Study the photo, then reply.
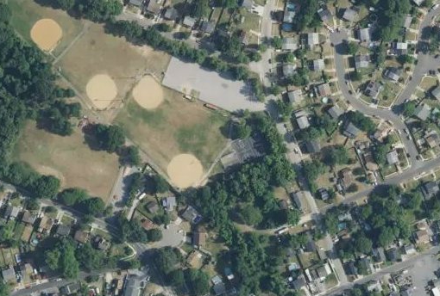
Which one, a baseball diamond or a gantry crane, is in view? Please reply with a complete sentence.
The image shows a baseball diamond.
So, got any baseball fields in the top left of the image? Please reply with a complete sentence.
Yes, a baseball field shows up in the top left of the image.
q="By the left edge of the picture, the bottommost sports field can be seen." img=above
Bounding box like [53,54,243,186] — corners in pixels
[17,127,118,199]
